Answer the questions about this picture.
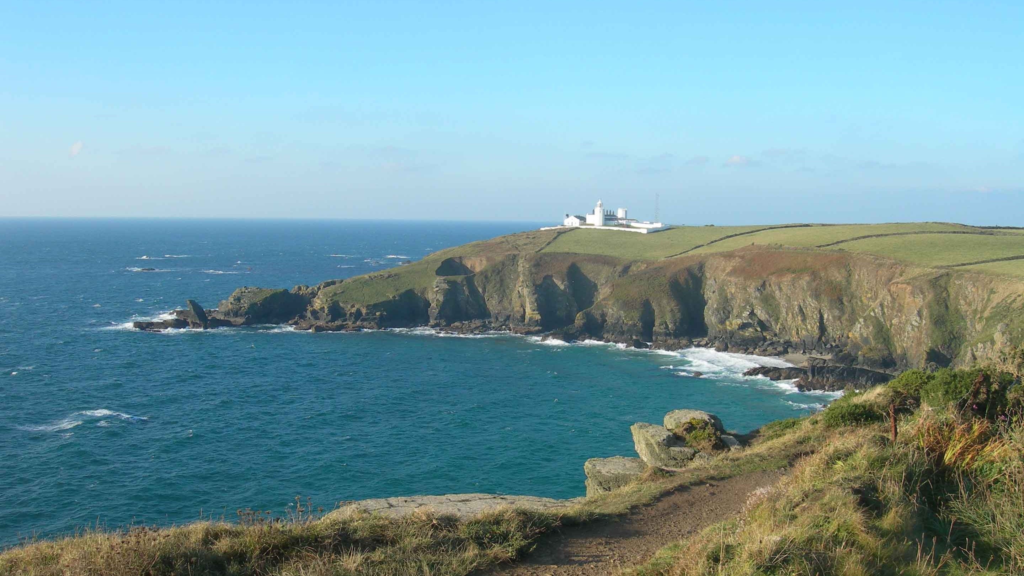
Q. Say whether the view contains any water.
Yes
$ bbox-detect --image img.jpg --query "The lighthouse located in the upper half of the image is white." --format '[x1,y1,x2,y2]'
[596,199,608,226]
